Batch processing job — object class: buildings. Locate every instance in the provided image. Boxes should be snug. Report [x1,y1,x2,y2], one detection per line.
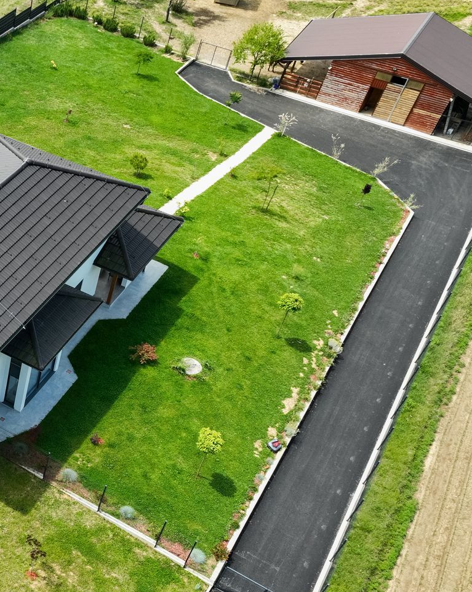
[0,138,187,412]
[277,13,472,144]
